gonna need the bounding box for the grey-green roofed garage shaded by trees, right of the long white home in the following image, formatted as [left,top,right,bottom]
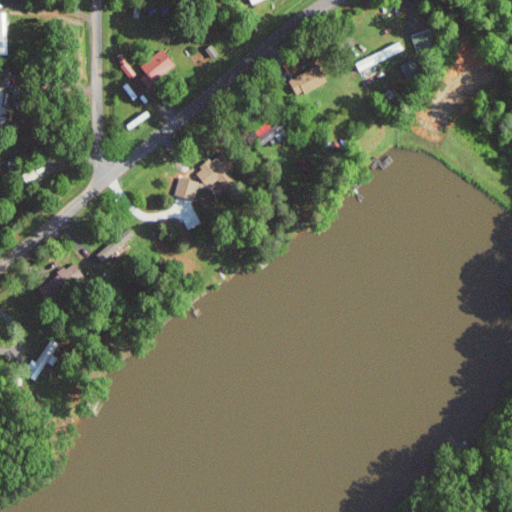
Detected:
[410,31,433,53]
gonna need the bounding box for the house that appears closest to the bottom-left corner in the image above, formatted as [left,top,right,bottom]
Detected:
[30,340,59,381]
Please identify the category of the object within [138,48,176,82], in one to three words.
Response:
house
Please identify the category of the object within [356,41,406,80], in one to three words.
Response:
house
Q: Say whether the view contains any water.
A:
Yes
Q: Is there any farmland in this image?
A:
No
